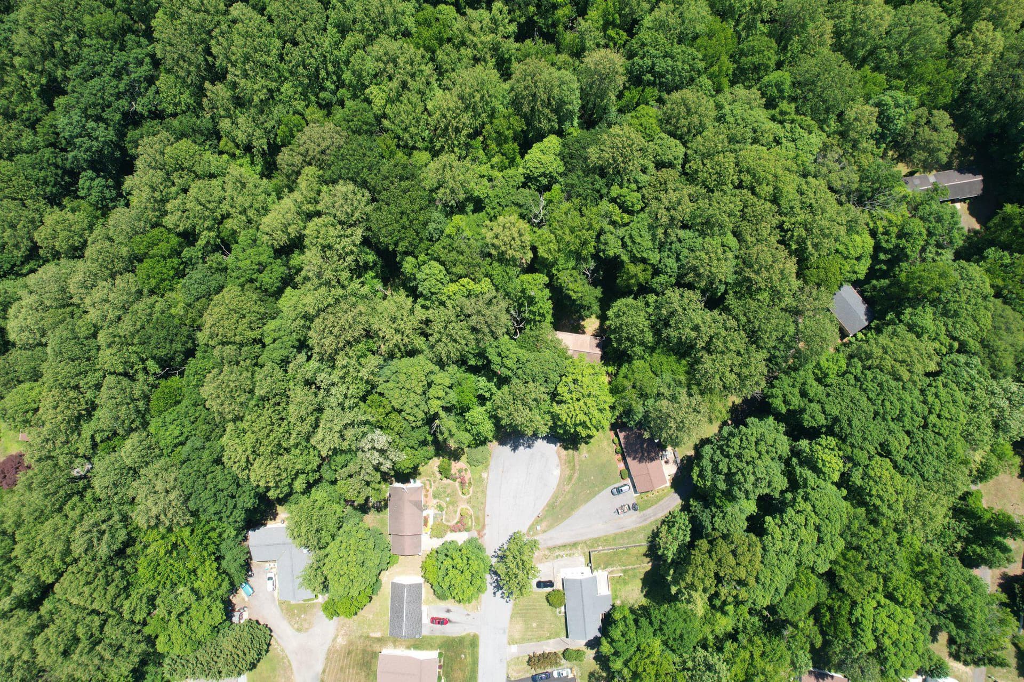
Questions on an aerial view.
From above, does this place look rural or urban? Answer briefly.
rural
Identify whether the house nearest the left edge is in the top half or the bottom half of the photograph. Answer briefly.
bottom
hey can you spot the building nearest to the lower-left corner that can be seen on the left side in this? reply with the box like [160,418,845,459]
[248,525,318,603]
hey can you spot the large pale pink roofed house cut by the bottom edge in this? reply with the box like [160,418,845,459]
[378,649,439,682]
